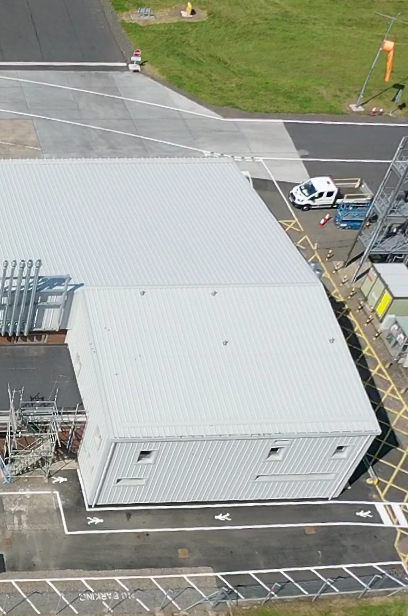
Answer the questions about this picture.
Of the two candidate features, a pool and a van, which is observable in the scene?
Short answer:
van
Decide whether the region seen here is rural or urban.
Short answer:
urban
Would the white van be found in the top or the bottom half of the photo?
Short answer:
top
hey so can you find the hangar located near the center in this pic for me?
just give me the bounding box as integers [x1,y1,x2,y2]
[0,158,383,509]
